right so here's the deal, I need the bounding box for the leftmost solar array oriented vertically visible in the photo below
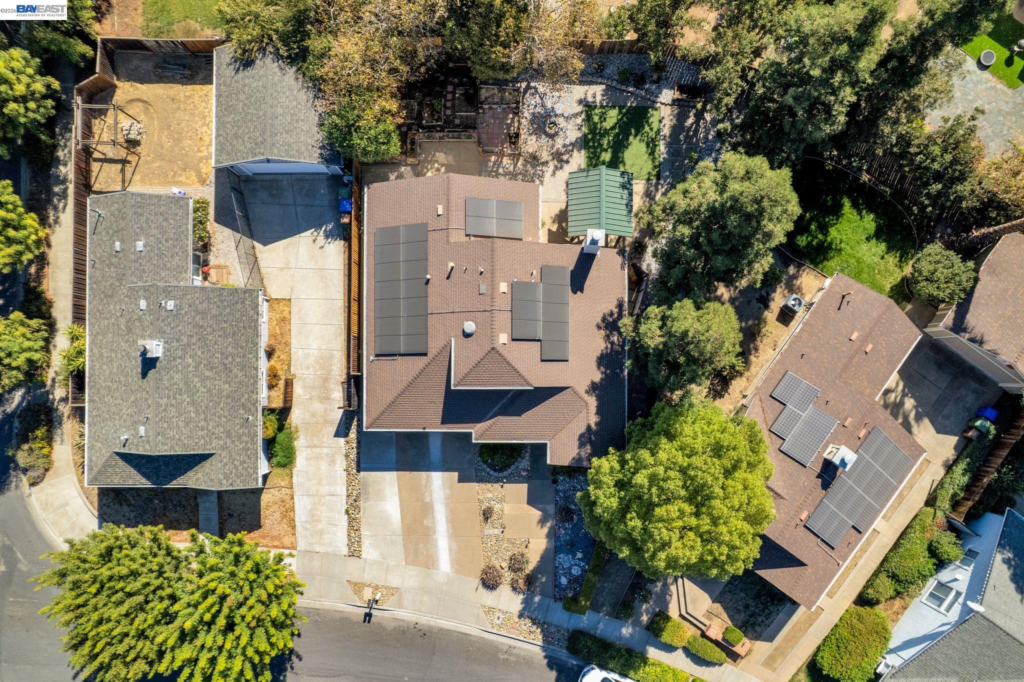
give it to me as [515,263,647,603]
[375,223,428,354]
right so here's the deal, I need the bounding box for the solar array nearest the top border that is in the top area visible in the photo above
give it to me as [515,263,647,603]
[466,197,523,238]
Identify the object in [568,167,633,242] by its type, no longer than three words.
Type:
building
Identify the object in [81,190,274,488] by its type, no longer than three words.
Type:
house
